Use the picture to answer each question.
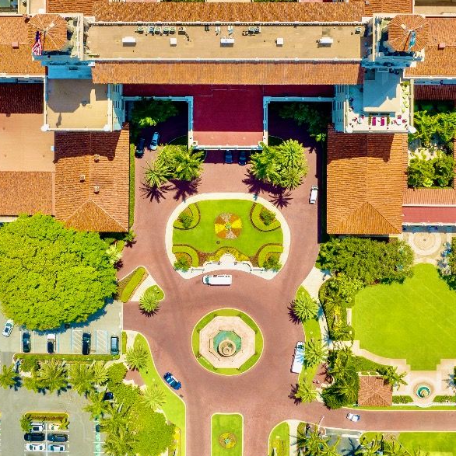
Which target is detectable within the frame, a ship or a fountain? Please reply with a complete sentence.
The one in the frame is a fountain.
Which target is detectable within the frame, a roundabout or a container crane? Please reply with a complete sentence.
I can see a roundabout in this picture.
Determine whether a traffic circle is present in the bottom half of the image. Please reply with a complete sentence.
Yes, the scene does show a traffic circle in the bottom half of the image.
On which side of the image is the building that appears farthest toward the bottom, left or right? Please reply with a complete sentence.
You can find the building that appears farthest toward the bottom on the right side of the picture.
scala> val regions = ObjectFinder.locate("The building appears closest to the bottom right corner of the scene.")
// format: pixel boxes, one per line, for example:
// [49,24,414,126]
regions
[358,373,393,407]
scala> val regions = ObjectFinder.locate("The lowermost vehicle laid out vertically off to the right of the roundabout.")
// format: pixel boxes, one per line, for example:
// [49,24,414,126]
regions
[291,339,306,373]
